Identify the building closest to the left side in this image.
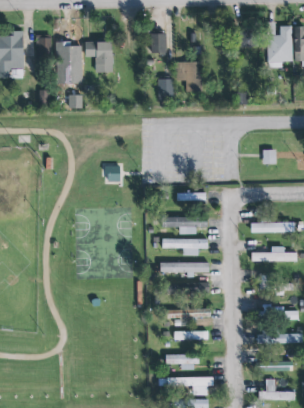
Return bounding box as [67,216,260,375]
[0,30,24,79]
